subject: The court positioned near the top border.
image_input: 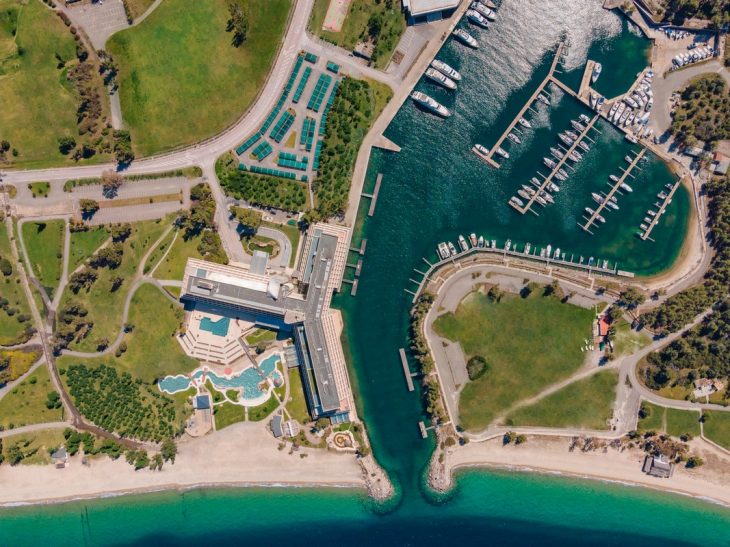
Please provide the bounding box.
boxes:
[323,0,350,34]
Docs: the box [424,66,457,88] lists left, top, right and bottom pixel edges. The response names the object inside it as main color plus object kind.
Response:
white boat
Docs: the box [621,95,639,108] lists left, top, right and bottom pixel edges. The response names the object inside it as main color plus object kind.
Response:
white boat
